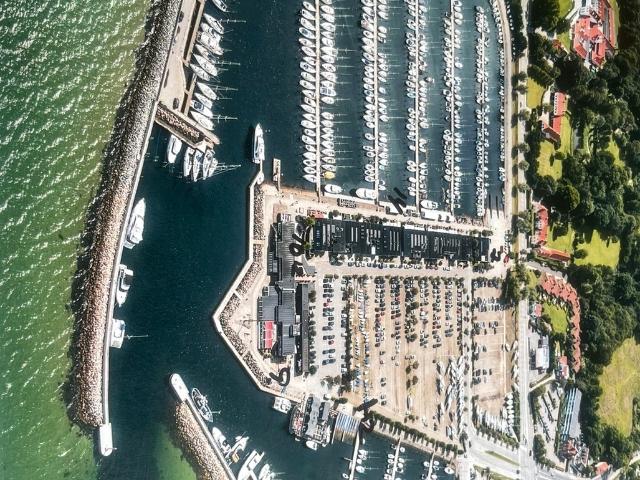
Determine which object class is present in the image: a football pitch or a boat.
boat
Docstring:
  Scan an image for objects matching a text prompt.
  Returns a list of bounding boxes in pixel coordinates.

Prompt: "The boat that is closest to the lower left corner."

[113,319,134,348]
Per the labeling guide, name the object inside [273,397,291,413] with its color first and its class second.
white boat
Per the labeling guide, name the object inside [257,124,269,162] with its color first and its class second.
white ship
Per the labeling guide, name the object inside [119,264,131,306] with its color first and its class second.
white boat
